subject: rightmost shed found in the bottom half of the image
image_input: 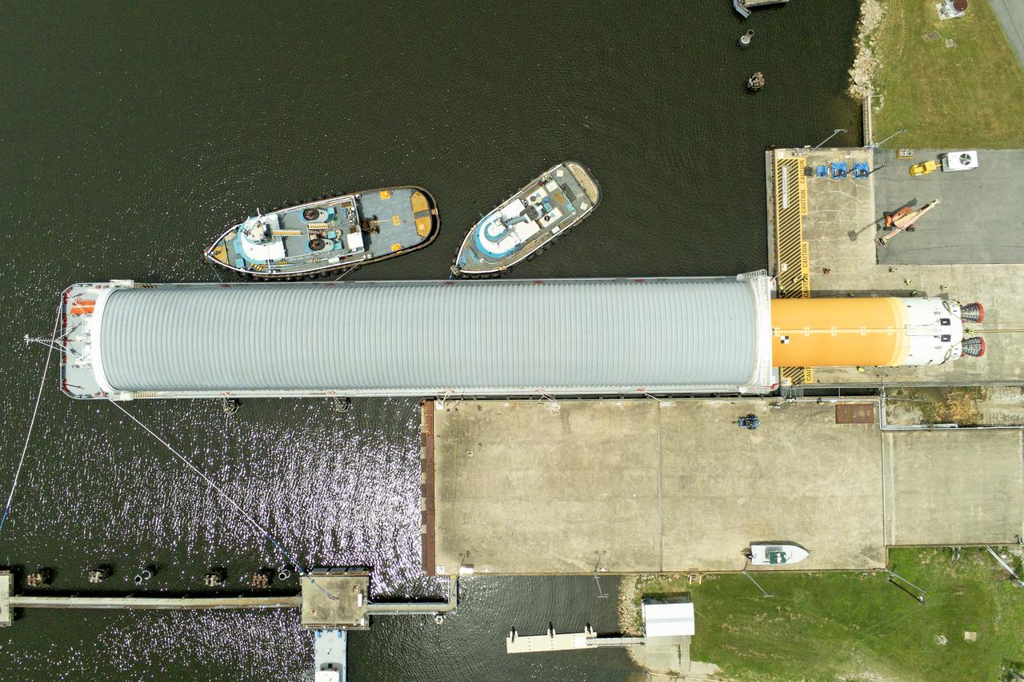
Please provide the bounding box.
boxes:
[644,595,698,643]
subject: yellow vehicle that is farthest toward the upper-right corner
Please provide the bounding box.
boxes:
[909,158,939,176]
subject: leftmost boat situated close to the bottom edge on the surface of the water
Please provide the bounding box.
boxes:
[314,629,349,682]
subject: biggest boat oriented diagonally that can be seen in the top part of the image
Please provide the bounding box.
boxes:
[449,159,603,279]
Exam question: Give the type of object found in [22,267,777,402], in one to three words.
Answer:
ship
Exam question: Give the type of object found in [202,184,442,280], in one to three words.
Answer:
boat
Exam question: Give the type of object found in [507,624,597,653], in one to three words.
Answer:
pier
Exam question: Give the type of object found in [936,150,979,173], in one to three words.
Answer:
trailer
